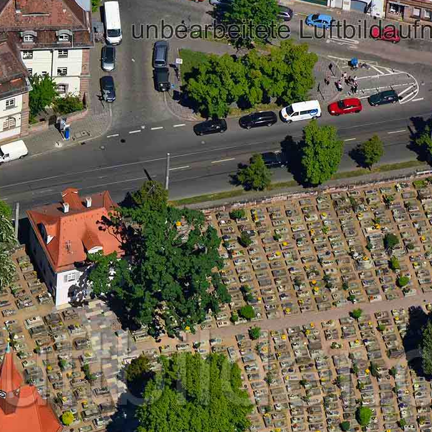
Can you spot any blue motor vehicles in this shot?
Yes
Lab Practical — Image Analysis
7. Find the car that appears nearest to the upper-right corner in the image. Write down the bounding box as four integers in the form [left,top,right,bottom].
[369,26,402,44]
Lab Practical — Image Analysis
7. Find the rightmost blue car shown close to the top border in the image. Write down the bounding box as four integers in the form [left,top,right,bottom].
[303,13,339,31]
